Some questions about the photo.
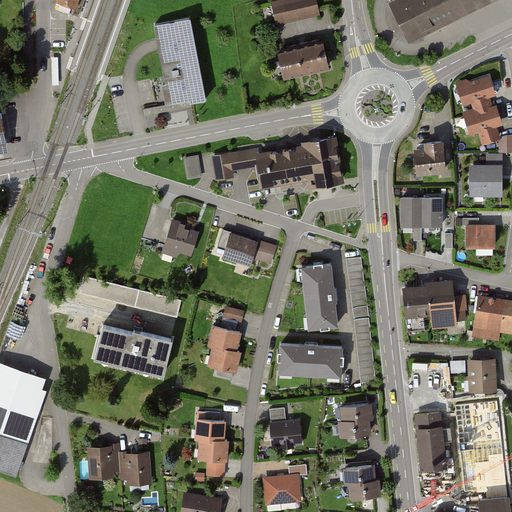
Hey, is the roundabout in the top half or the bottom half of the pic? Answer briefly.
top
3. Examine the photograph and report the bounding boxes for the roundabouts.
[338,68,416,144]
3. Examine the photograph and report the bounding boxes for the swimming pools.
[142,491,159,506]
[79,460,88,480]
[456,249,466,260]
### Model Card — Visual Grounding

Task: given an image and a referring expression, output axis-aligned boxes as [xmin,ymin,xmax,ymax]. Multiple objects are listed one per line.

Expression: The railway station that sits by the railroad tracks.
[66,0,132,81]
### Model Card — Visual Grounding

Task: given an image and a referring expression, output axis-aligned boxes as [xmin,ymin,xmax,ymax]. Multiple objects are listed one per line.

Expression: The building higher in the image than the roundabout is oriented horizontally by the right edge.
[389,0,498,44]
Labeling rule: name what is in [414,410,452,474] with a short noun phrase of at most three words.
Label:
house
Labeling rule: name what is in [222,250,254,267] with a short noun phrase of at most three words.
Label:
solar panel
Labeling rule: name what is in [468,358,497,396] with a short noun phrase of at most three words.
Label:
house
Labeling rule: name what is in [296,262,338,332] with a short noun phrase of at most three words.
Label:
building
